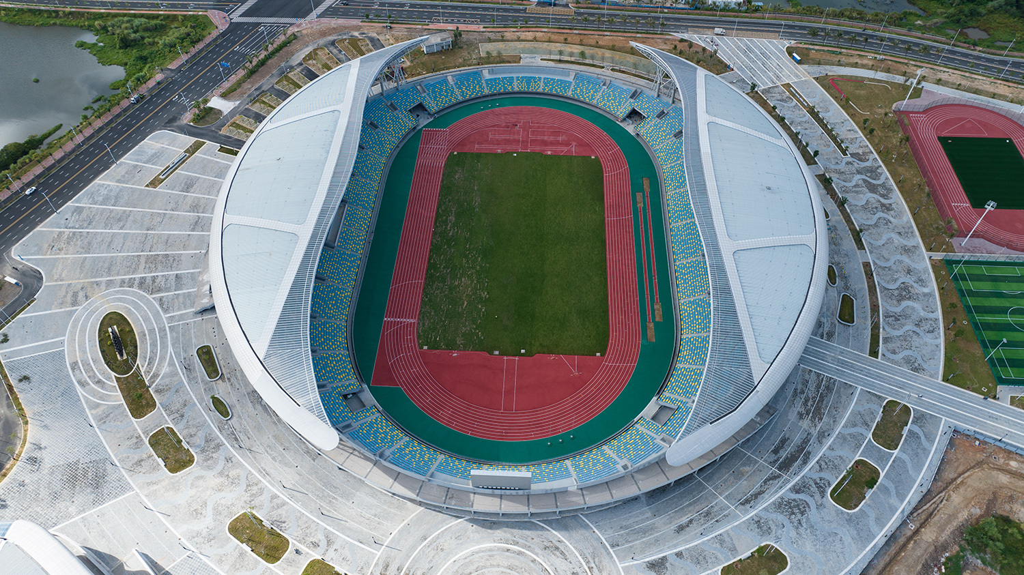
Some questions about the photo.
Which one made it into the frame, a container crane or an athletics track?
athletics track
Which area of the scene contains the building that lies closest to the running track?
top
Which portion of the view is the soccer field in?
right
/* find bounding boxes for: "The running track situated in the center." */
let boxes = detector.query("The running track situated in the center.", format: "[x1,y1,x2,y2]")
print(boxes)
[385,106,641,441]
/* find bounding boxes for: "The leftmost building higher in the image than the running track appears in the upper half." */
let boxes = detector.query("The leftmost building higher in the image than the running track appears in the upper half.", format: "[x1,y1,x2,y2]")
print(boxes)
[420,32,454,61]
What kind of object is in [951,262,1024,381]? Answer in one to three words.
soccer field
